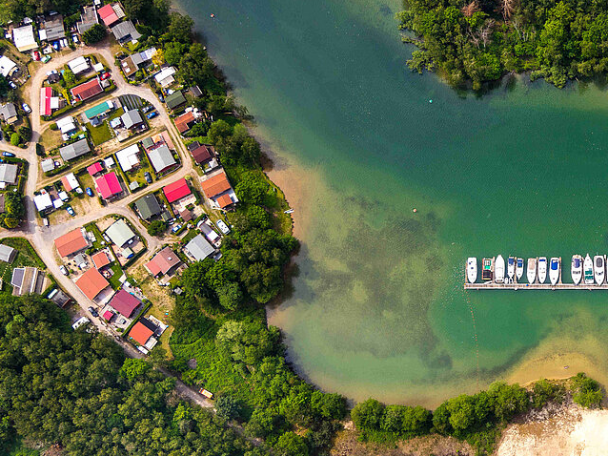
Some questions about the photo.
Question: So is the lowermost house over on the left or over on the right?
left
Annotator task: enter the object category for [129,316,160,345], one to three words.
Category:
house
